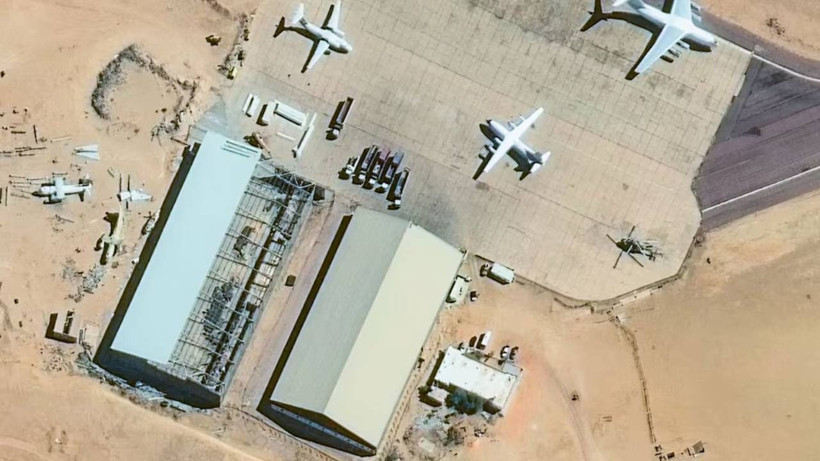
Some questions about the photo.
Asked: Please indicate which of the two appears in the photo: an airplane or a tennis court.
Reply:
airplane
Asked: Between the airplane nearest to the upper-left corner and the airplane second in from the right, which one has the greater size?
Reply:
the airplane second in from the right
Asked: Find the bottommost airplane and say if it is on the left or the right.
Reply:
left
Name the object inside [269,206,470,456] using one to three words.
hangar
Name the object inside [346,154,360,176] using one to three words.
vehicle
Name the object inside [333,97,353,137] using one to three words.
vehicle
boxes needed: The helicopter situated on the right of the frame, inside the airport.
[617,219,664,259]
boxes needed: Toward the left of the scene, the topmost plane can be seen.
[292,2,352,66]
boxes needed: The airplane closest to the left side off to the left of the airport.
[41,174,92,210]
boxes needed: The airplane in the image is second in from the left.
[100,198,127,259]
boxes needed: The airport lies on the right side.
[186,0,820,302]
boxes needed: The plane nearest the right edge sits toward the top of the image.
[612,0,717,70]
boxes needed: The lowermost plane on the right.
[480,103,549,174]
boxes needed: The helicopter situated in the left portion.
[144,207,160,236]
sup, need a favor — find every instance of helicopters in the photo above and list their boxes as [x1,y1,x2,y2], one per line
[617,219,664,259]
[144,207,160,236]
